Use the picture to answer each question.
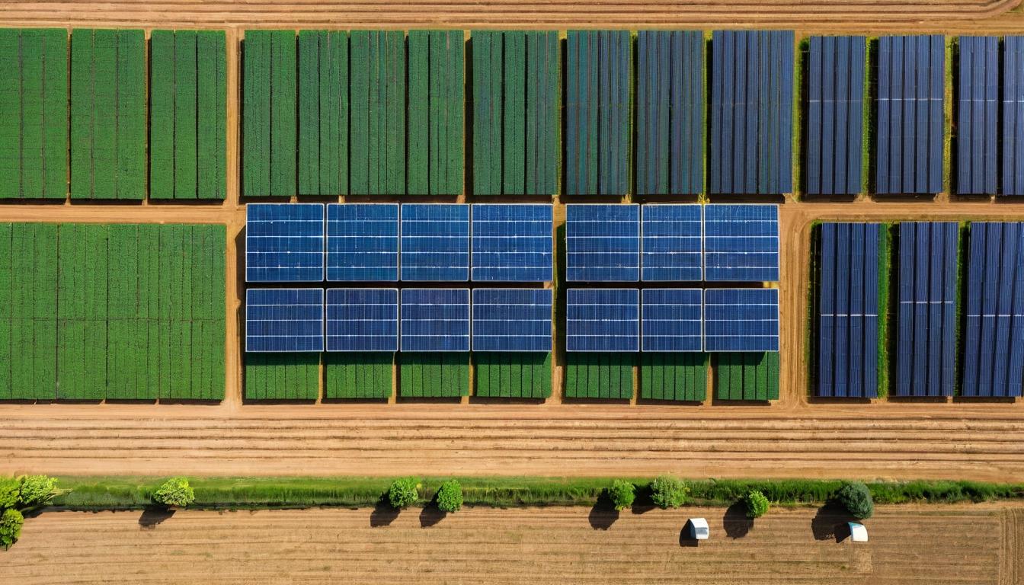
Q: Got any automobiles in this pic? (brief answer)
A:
No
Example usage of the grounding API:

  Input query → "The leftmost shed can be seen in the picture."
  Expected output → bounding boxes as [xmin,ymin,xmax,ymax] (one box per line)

[690,517,707,540]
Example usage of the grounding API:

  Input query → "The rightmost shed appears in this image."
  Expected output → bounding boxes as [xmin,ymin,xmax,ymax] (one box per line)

[847,521,867,542]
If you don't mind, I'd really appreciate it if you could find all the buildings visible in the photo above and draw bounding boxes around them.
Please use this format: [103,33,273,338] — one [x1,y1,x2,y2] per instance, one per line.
[690,517,707,540]
[847,521,867,542]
